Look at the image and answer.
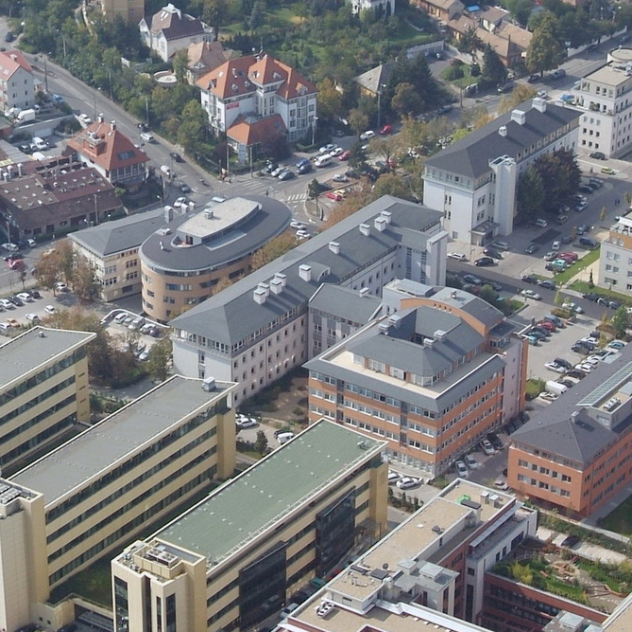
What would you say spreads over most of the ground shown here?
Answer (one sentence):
The bulk of the photo consists of buildings.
